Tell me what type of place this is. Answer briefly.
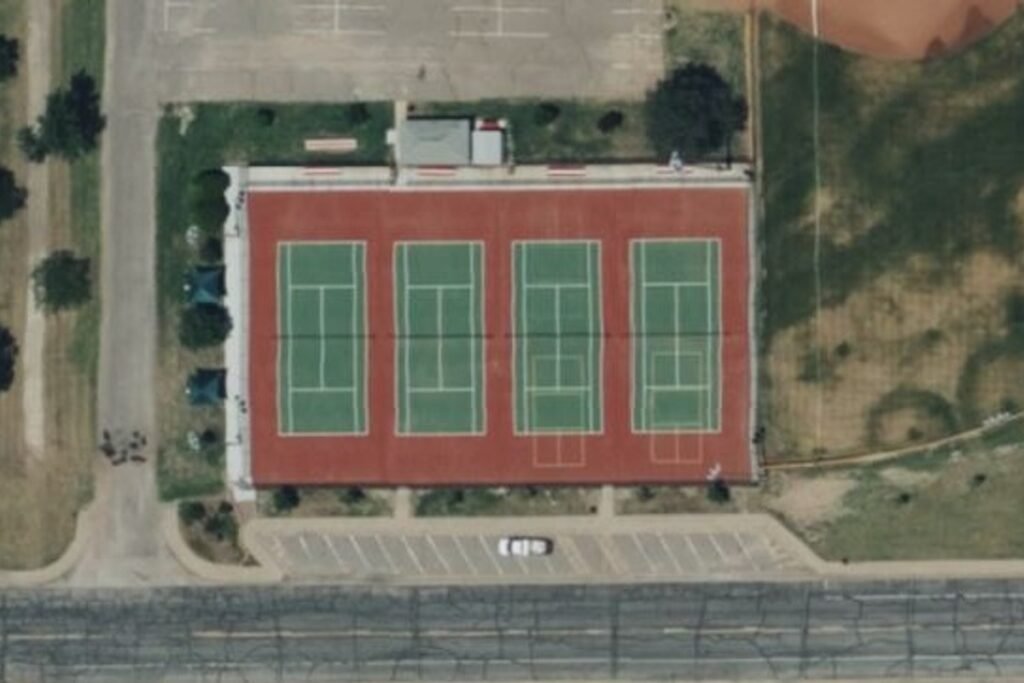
sports ground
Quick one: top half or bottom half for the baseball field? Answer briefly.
top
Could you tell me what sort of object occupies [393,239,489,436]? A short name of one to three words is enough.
tennis court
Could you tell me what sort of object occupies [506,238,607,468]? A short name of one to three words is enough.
tennis court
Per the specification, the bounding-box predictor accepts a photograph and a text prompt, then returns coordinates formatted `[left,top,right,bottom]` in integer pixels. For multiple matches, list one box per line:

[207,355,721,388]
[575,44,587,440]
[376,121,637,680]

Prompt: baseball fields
[757,0,1024,468]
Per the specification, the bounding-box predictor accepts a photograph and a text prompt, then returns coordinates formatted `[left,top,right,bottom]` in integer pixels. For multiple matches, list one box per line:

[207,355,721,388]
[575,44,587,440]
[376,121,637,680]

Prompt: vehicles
[500,538,552,557]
